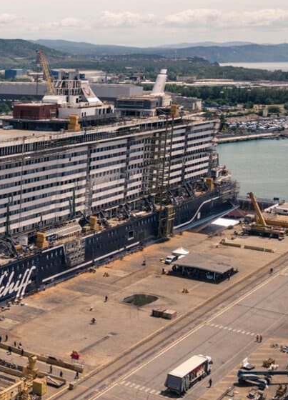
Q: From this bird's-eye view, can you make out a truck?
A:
Yes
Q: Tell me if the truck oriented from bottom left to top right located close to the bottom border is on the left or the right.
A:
right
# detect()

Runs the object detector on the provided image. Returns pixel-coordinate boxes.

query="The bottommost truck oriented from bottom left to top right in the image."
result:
[167,353,213,394]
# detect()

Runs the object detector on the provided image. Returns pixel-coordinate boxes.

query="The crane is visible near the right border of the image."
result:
[246,192,288,237]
